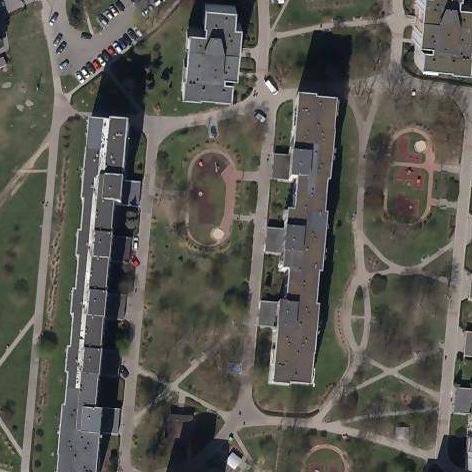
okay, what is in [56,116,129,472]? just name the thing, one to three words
building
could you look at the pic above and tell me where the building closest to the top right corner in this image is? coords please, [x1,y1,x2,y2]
[412,0,472,81]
